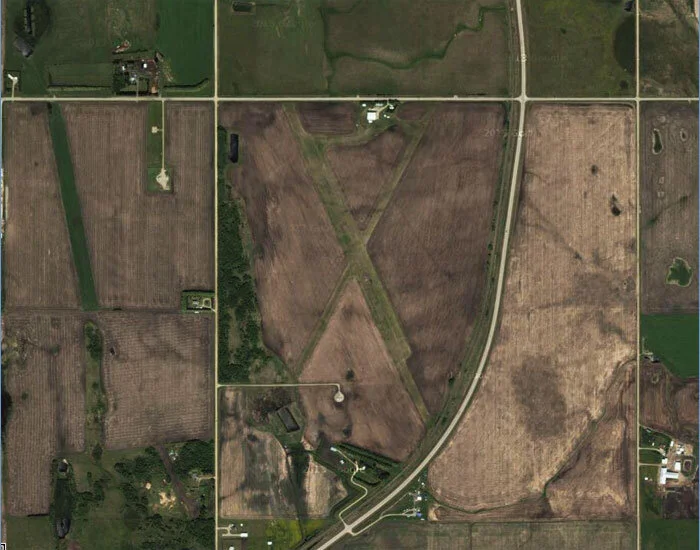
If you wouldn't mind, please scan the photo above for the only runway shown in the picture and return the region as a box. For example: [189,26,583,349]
[282,102,435,426]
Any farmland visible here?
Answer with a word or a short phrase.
Yes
